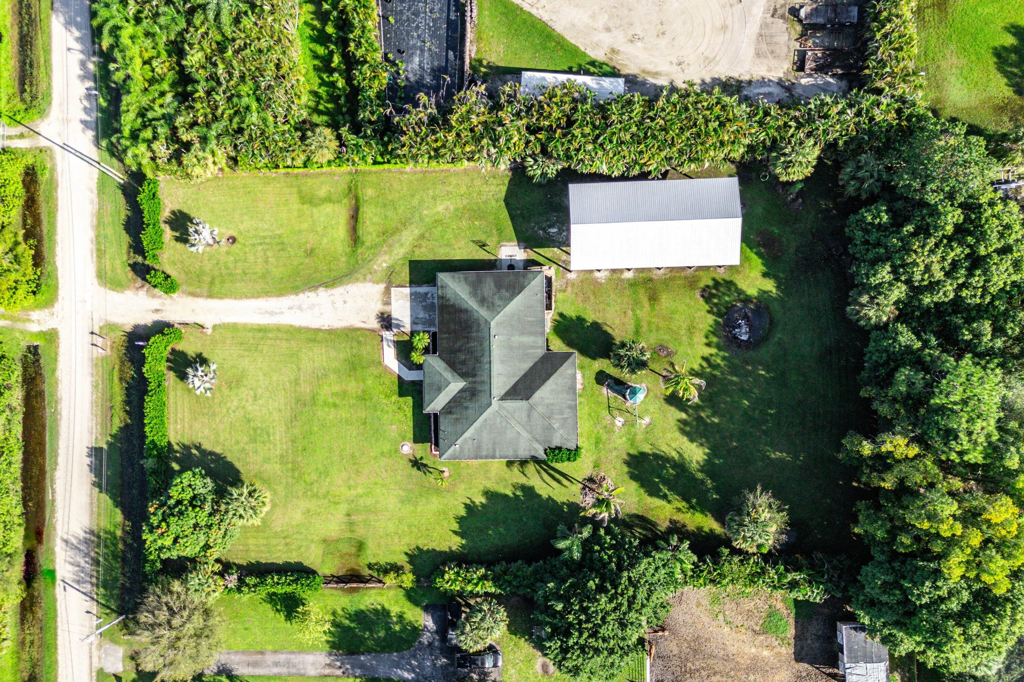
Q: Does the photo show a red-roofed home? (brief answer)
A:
No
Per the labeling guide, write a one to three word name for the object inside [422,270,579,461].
house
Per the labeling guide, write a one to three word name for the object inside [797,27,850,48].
trailer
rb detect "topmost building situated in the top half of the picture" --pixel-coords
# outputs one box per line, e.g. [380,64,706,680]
[567,177,742,277]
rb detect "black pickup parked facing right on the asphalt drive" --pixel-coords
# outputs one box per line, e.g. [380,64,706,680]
[452,651,506,676]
